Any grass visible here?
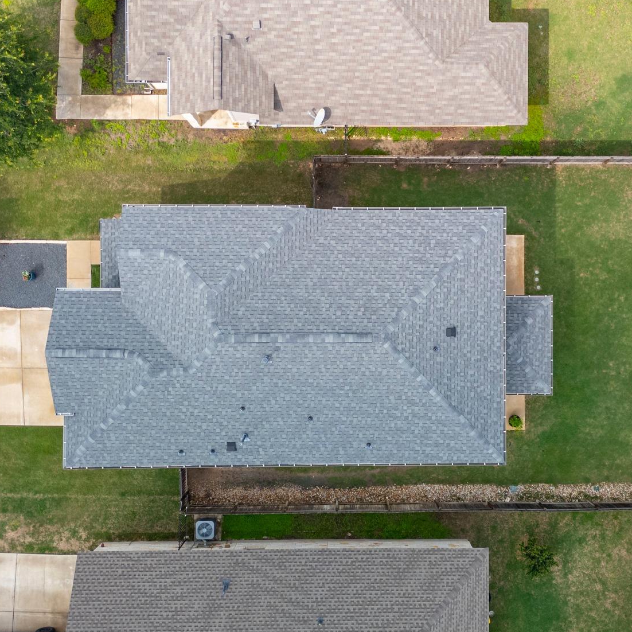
Yes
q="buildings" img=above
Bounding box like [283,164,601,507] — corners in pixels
[110,0,529,132]
[68,538,490,632]
[45,203,554,468]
